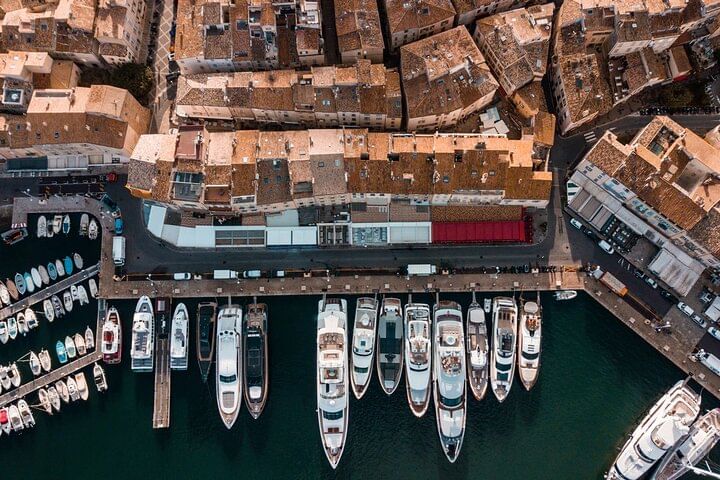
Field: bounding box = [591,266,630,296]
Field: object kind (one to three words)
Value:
truck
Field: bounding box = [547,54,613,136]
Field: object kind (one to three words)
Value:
house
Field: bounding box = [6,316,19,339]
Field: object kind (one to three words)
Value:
boat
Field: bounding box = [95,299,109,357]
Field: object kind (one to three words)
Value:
pier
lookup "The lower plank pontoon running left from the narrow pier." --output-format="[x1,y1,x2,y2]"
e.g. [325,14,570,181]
[0,353,103,407]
